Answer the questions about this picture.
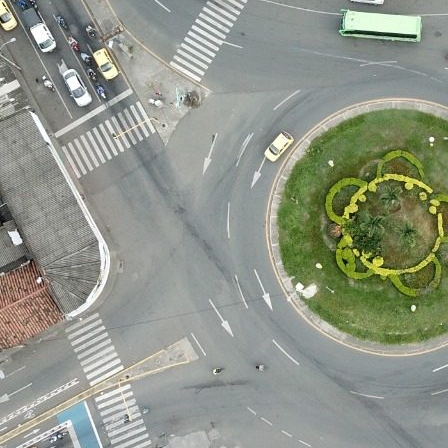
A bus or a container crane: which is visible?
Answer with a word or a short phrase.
bus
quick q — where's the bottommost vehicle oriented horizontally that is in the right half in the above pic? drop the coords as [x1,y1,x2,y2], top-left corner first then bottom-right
[336,7,421,40]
